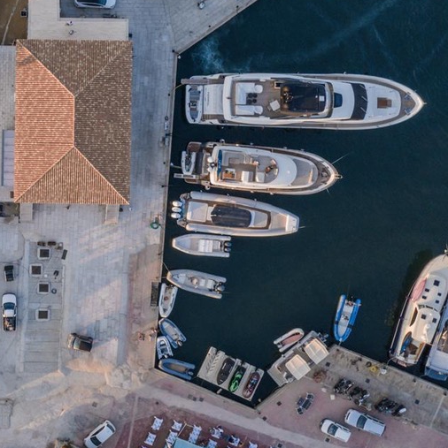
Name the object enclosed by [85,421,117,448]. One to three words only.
car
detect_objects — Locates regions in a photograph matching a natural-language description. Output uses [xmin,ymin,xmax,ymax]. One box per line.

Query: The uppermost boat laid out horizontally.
[175,70,427,133]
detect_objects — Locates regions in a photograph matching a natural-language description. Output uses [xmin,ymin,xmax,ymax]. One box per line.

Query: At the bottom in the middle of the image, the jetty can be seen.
[197,346,263,402]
